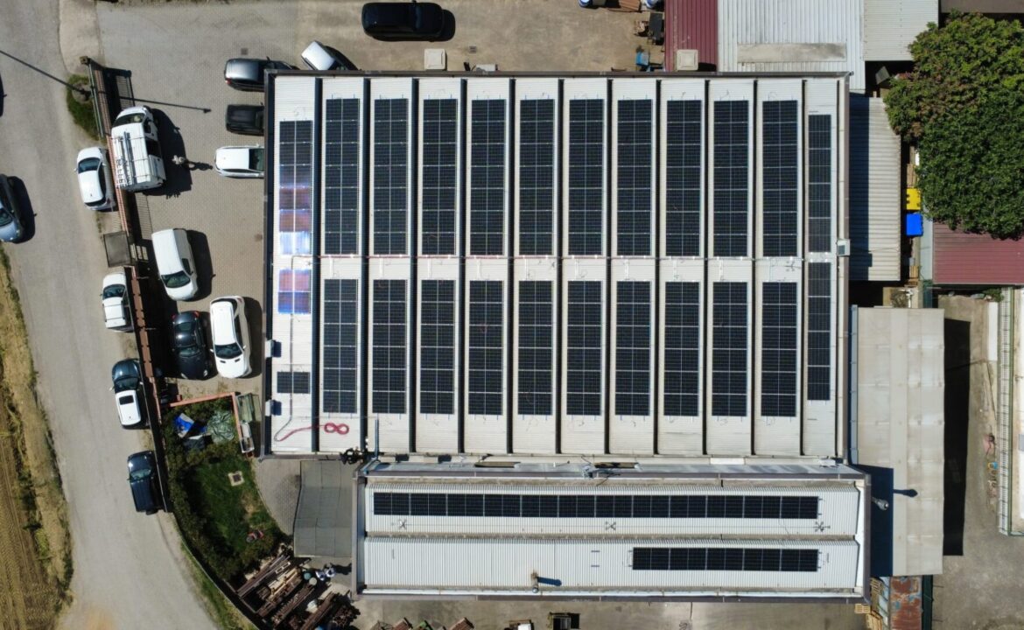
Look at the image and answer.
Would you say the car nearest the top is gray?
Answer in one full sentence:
No, the car nearest the top is black.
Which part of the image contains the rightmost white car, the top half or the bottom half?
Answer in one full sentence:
The rightmost white car sits in the top half of the picture.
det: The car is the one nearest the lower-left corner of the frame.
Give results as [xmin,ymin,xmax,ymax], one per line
[127,447,166,515]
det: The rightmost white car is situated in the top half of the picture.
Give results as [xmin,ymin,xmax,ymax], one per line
[302,41,356,70]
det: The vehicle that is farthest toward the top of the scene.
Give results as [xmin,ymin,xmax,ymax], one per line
[362,0,445,41]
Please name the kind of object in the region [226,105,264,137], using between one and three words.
car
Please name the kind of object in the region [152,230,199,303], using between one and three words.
van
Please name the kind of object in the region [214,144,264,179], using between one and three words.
car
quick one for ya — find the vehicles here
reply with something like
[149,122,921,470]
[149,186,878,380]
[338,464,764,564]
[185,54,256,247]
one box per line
[99,270,132,333]
[226,105,264,137]
[74,146,117,213]
[0,171,24,244]
[114,107,166,195]
[212,298,252,379]
[152,230,199,303]
[362,0,445,41]
[127,447,166,515]
[110,357,150,430]
[214,144,264,179]
[172,309,211,381]
[225,56,304,92]
[302,41,356,70]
